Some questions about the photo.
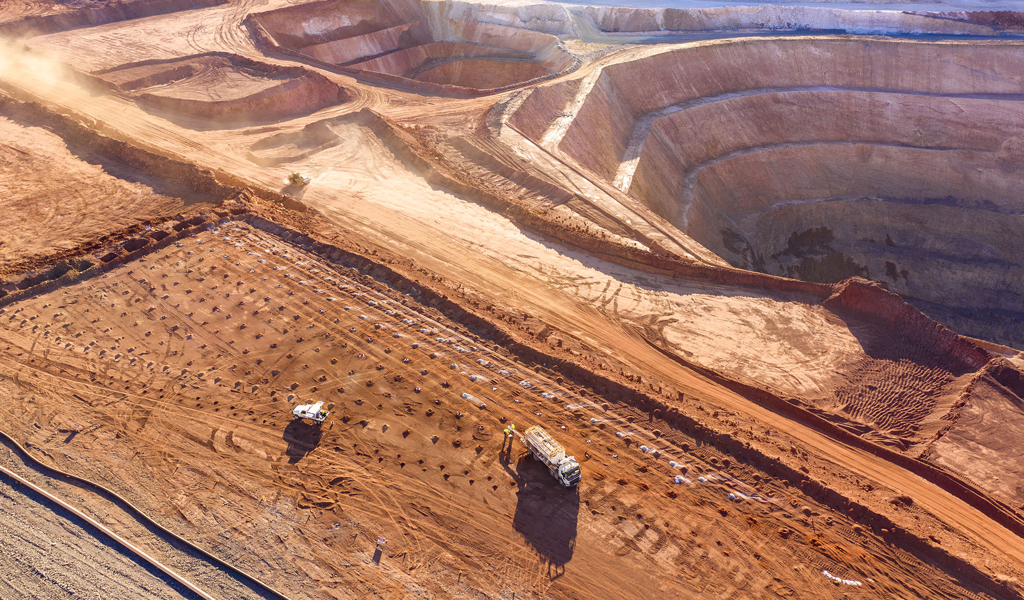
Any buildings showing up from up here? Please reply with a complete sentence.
No, the photo shows no building.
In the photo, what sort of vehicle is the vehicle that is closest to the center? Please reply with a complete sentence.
Specifically, the vehicle that is closest to the center is a truck.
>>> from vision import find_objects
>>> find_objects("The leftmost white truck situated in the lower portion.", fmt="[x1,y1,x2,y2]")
[287,398,329,425]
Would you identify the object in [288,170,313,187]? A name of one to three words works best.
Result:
work vehicle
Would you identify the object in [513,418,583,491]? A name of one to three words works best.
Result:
truck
